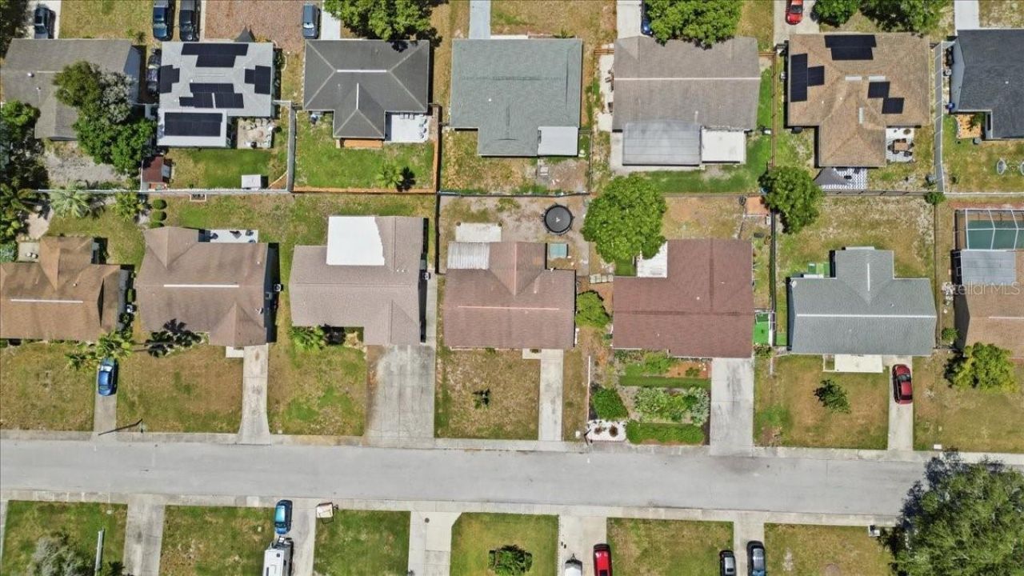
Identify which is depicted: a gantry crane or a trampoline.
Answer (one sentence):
The image shows a trampoline.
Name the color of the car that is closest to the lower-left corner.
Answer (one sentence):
The car that is closest to the lower-left corner is blue.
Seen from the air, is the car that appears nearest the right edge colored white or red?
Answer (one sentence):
From above, the car that appears nearest the right edge appears red.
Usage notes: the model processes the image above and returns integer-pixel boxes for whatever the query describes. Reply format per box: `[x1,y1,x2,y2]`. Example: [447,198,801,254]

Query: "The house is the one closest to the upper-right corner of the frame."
[946,29,1024,141]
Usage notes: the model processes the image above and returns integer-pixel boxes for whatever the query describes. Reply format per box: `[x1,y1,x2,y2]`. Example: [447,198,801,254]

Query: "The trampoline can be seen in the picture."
[543,204,574,234]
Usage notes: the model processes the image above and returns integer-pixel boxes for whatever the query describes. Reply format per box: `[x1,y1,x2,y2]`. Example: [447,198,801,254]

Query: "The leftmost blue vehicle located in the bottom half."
[97,359,118,395]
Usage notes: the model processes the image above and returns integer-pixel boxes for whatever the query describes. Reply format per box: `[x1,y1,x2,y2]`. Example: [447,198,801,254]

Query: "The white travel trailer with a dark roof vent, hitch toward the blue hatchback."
[263,533,291,576]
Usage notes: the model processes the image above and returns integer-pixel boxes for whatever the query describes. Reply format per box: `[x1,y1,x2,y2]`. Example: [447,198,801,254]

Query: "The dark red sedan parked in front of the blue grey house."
[892,364,913,403]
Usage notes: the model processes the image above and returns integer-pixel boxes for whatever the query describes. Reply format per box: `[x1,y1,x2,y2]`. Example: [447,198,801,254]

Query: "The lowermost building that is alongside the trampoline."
[443,241,577,348]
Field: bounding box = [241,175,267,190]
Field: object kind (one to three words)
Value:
shed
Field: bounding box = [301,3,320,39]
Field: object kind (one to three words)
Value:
car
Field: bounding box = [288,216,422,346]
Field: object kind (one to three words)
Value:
house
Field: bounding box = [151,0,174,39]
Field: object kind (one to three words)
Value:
truck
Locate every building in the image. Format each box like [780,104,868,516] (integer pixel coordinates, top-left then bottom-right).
[241,175,267,190]
[450,38,582,158]
[304,39,430,140]
[612,37,762,168]
[288,216,422,346]
[443,241,577,348]
[0,236,129,339]
[613,239,758,358]
[158,41,278,151]
[784,247,940,355]
[784,33,930,168]
[142,155,178,189]
[946,29,1024,141]
[948,250,1024,358]
[132,226,273,348]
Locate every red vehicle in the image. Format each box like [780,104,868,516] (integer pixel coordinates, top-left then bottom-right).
[892,364,913,403]
[784,0,803,22]
[593,541,611,576]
